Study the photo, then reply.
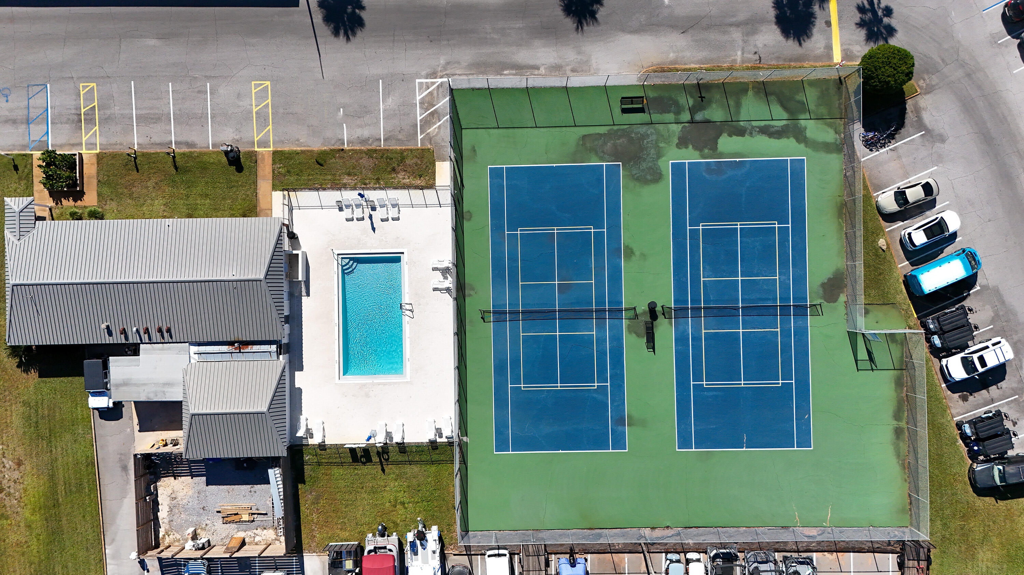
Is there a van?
Yes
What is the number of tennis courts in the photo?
2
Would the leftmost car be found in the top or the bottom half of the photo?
bottom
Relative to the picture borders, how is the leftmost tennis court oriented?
up and down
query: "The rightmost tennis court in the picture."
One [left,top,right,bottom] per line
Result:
[670,156,813,452]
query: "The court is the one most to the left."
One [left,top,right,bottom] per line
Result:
[488,162,628,454]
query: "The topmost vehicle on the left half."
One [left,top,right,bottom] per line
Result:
[82,357,116,410]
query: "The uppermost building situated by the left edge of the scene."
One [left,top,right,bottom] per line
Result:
[0,196,290,345]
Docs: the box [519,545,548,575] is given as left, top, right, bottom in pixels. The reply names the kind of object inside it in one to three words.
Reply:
trailer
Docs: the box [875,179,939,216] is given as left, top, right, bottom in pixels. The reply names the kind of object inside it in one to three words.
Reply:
car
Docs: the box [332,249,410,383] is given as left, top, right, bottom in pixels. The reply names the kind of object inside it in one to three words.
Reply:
swimming pool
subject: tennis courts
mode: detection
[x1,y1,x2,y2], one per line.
[488,162,628,454]
[670,156,813,452]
